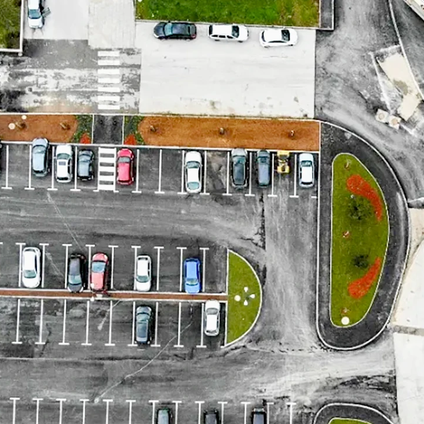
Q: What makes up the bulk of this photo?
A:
paved ground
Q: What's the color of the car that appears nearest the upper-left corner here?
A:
white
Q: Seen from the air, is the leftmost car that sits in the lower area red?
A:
No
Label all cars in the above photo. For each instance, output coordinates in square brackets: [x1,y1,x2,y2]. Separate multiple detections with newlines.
[53,144,74,184]
[64,252,85,294]
[132,254,152,293]
[250,407,266,424]
[183,150,203,194]
[24,0,51,31]
[75,148,94,183]
[297,152,316,189]
[133,304,153,346]
[202,299,222,338]
[88,252,110,293]
[29,137,50,178]
[254,149,272,189]
[115,148,136,187]
[258,27,298,48]
[18,245,42,288]
[206,22,249,43]
[182,256,201,295]
[156,407,174,424]
[153,20,197,42]
[229,148,249,191]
